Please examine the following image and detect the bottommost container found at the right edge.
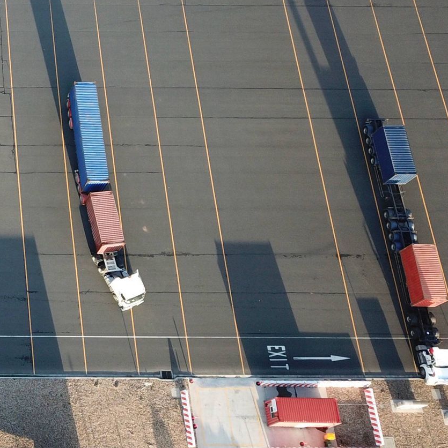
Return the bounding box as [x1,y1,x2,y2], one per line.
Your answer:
[400,244,448,307]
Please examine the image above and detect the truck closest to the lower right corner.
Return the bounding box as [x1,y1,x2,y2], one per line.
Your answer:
[407,312,448,386]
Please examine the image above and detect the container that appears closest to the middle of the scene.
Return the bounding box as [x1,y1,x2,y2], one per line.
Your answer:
[86,190,125,254]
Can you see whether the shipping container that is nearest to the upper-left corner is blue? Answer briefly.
Yes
